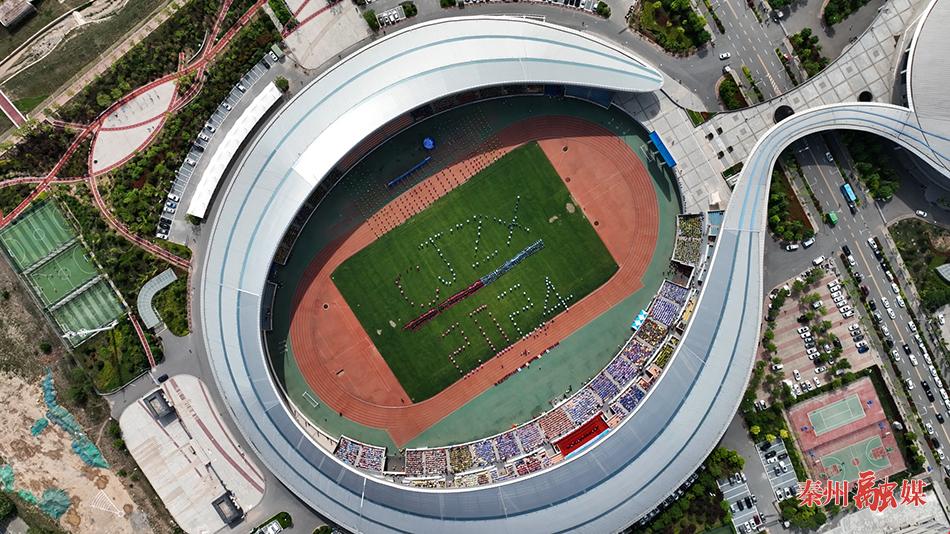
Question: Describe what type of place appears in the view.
sports ground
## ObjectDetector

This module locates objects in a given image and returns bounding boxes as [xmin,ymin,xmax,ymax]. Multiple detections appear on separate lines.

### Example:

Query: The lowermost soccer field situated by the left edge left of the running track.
[45,277,127,350]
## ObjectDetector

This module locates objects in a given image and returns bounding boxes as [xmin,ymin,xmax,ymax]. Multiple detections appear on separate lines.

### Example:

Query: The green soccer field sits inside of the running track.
[330,141,619,402]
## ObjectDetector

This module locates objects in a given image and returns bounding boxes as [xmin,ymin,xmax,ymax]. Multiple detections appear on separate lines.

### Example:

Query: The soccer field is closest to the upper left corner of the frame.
[0,197,79,273]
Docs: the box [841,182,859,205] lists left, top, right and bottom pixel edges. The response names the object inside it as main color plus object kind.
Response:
blue vehicle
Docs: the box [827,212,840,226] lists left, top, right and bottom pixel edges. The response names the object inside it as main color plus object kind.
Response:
green vehicle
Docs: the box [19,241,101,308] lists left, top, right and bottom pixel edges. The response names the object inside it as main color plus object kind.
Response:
green soccer field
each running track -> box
[262,95,690,462]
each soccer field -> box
[330,141,619,402]
[45,277,127,350]
[19,241,101,308]
[0,197,79,273]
